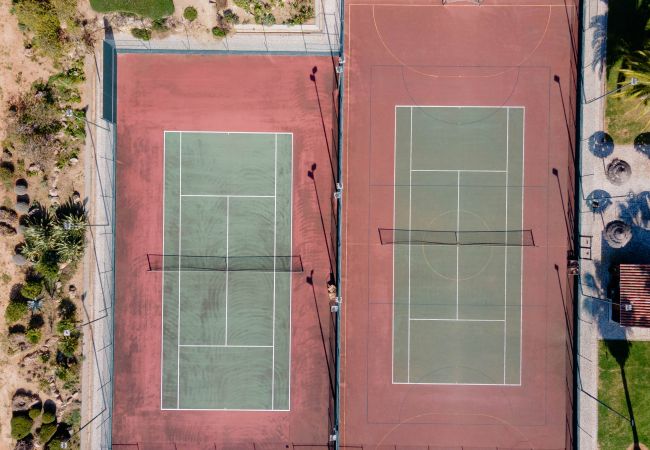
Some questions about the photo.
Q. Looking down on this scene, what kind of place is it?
sports ground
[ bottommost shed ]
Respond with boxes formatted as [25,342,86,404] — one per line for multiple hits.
[604,263,650,328]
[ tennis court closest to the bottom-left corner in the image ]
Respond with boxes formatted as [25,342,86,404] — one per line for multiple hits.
[113,51,340,450]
